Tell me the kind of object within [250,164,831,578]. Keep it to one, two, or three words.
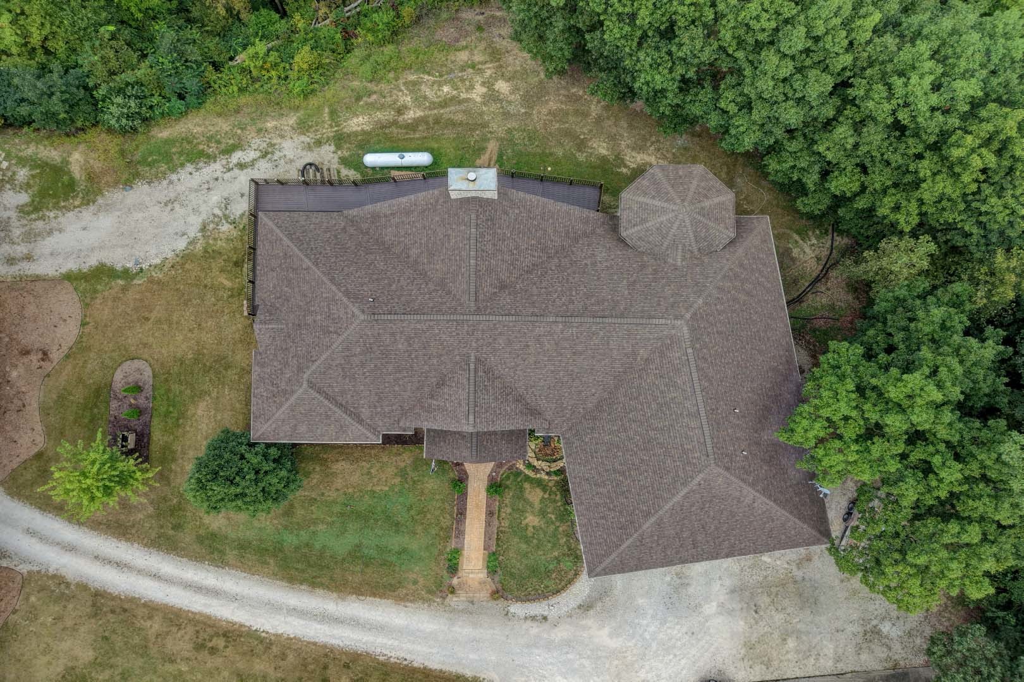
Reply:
house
